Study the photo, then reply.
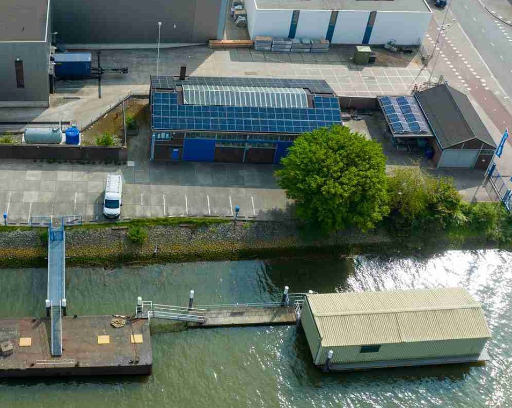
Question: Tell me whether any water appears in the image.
Yes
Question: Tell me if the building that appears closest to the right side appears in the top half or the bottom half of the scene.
top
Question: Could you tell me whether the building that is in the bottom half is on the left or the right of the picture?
right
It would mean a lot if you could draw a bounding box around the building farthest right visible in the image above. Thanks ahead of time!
[404,80,499,170]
